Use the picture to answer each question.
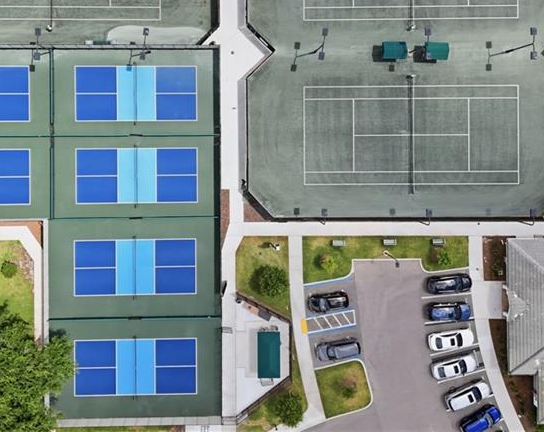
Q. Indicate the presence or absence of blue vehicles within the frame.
Yes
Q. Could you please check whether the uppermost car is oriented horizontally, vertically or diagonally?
horizontally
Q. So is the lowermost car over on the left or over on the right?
right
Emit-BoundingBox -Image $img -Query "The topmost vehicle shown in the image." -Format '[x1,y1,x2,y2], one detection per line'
[425,272,470,294]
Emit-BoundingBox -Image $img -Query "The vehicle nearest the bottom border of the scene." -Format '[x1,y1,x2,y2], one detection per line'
[458,402,504,432]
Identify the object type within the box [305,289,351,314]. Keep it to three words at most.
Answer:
car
